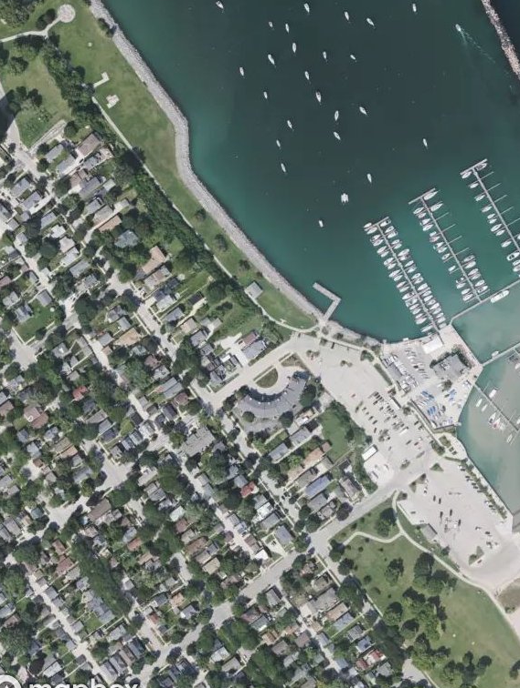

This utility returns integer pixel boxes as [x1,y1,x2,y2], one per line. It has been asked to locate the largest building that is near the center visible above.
[236,380,310,419]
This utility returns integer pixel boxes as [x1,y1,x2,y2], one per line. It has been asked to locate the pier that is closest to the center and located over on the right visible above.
[313,283,340,325]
